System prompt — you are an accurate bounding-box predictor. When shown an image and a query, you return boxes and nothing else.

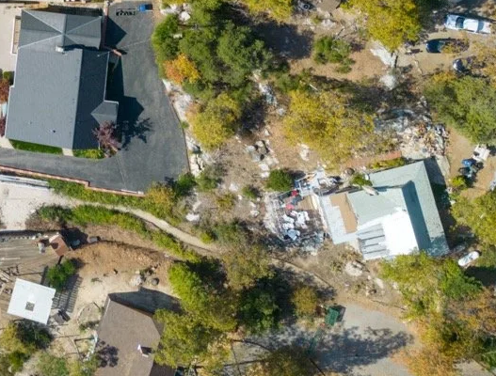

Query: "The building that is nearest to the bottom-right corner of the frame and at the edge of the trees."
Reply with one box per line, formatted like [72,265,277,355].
[309,155,449,260]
